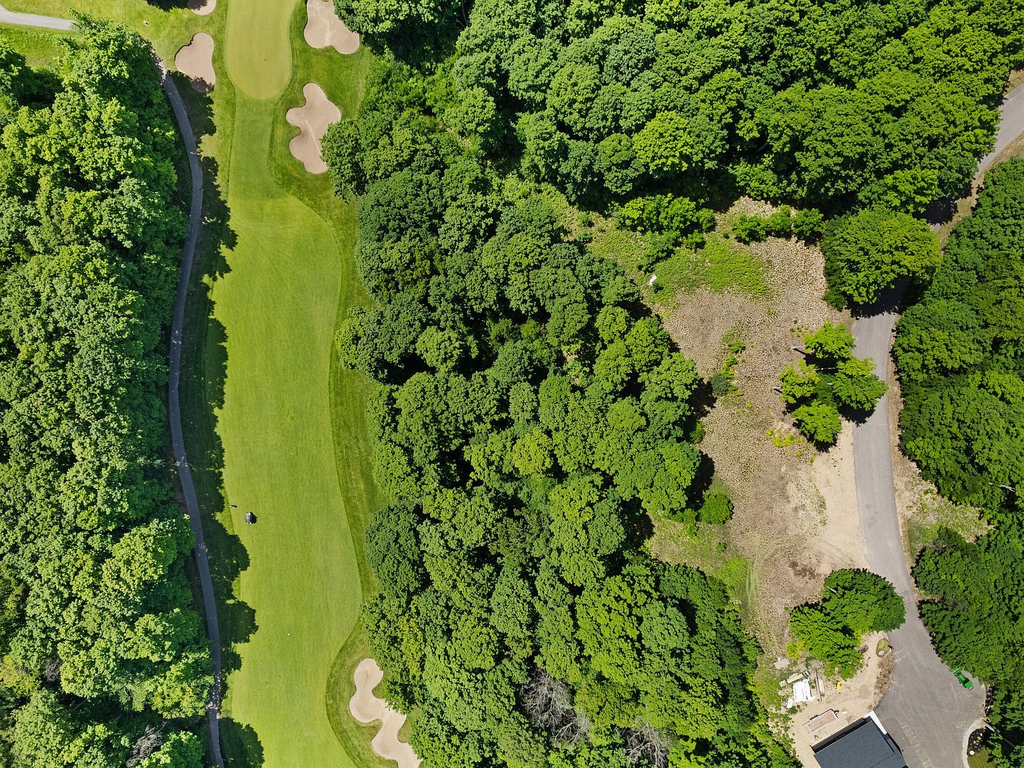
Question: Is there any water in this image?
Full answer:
No, the scene doesn't show any water.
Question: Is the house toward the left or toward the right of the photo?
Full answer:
You can find the house on the right side of the picture.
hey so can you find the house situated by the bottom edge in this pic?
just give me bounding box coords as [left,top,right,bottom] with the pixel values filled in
[813,717,905,768]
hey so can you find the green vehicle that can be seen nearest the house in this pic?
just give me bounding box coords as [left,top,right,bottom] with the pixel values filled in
[953,668,974,688]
